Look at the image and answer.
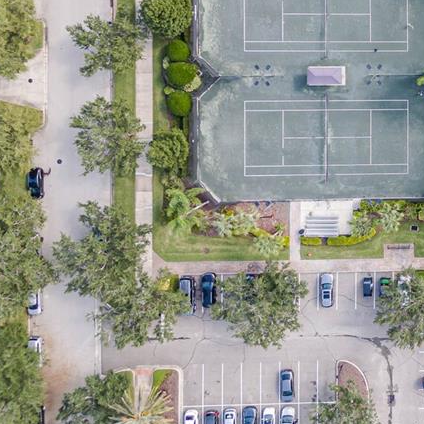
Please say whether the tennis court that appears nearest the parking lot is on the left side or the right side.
right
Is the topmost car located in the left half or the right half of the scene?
left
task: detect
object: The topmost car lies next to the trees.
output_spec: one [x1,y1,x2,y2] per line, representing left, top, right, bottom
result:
[28,167,51,197]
